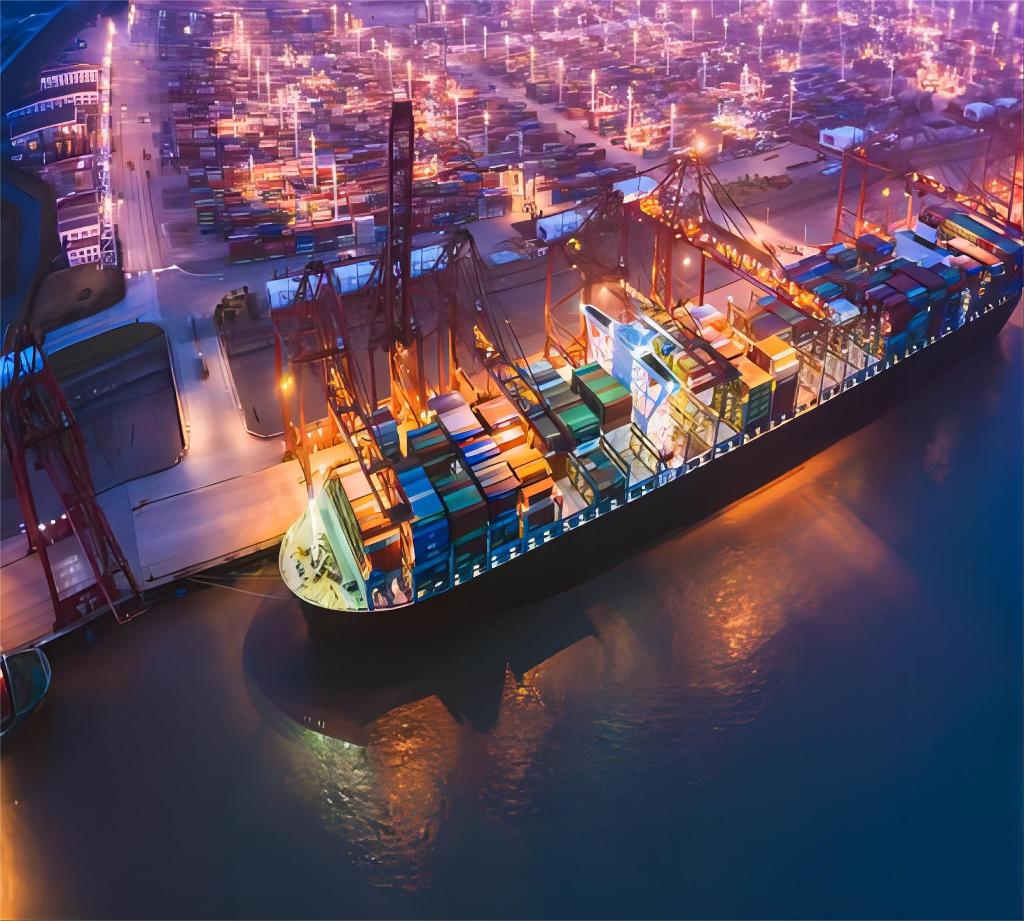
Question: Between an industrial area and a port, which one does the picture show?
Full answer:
The area seen from above is a port.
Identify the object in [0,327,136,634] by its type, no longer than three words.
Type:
container crane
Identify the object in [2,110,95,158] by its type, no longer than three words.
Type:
building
